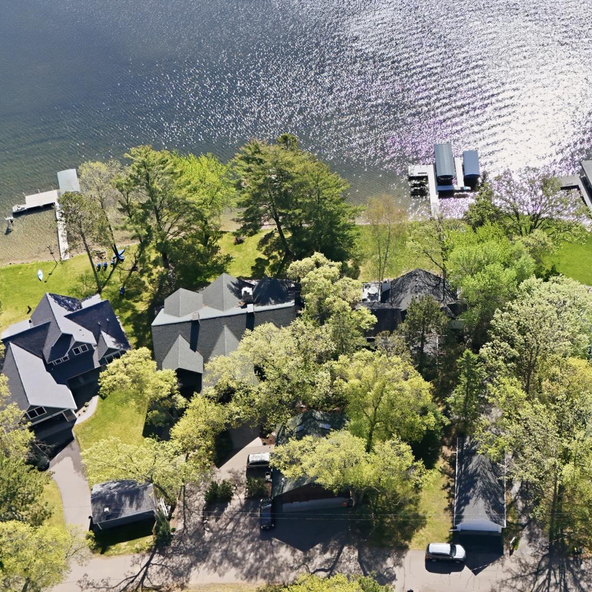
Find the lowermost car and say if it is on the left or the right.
right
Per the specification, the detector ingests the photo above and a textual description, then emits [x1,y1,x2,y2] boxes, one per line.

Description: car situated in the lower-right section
[425,544,466,565]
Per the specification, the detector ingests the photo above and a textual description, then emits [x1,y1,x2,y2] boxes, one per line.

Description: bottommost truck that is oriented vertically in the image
[255,497,277,538]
